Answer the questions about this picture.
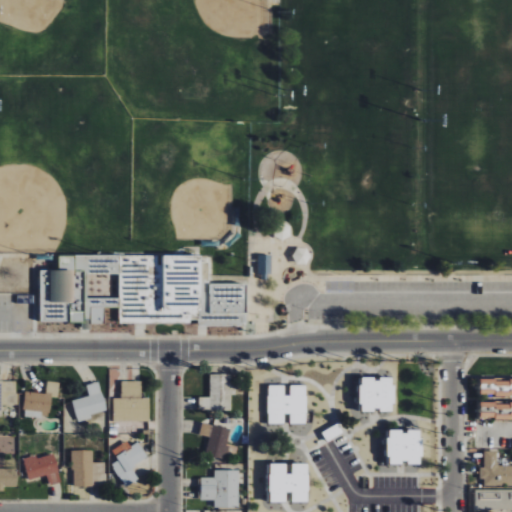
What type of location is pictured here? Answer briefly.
sports ground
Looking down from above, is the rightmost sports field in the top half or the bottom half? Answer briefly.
top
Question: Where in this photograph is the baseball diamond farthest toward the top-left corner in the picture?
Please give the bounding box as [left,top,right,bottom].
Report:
[0,0,106,76]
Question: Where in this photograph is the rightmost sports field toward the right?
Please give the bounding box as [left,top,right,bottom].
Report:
[420,0,512,270]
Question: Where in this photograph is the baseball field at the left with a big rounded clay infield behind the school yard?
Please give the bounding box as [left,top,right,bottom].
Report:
[0,76,132,254]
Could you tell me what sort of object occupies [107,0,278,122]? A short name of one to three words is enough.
baseball field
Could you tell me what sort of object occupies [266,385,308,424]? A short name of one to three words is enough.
building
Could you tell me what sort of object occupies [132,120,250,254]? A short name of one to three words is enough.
baseball field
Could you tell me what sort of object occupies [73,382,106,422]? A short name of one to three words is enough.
house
